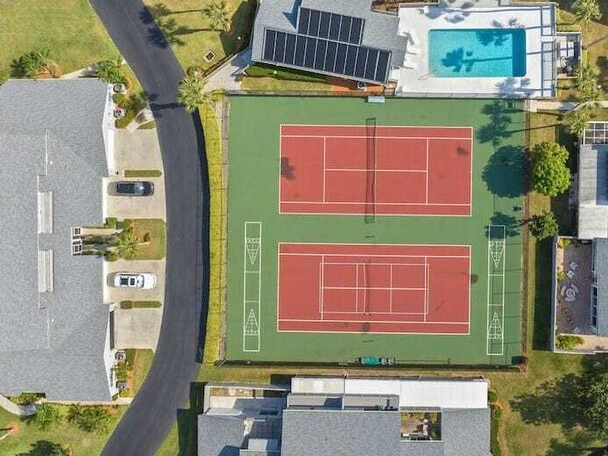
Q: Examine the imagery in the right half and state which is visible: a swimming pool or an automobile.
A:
swimming pool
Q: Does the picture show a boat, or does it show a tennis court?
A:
tennis court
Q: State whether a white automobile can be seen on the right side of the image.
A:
No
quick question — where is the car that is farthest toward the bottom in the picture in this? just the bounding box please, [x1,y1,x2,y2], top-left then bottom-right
[113,272,155,291]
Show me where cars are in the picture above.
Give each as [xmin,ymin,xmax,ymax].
[111,179,151,198]
[113,272,155,291]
